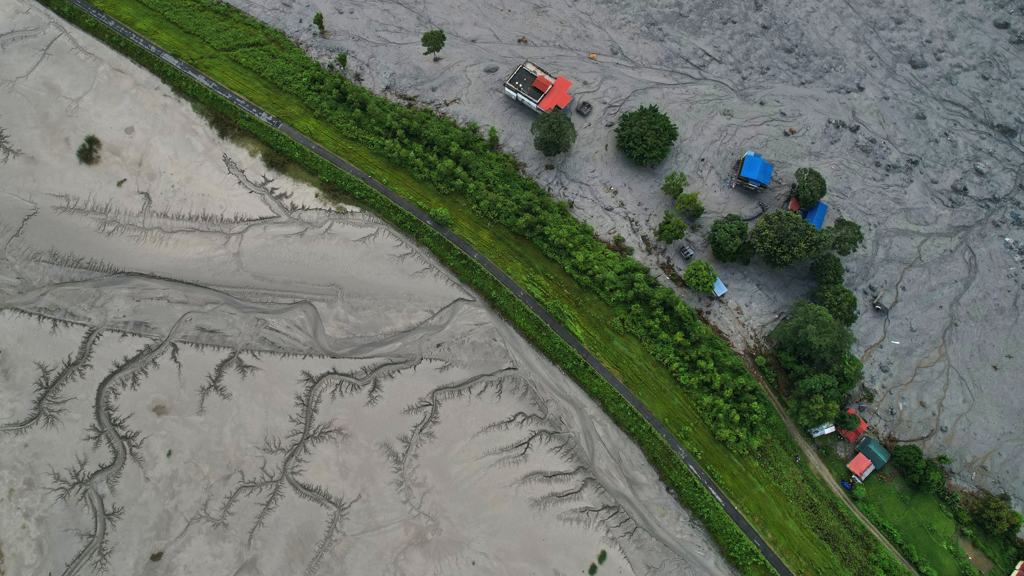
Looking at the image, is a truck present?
No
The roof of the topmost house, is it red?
Yes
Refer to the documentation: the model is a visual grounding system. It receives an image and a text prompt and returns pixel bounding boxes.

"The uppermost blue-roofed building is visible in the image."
[735,151,774,191]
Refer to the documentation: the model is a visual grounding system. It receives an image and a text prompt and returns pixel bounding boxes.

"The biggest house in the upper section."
[503,58,573,115]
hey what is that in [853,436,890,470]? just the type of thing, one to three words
building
